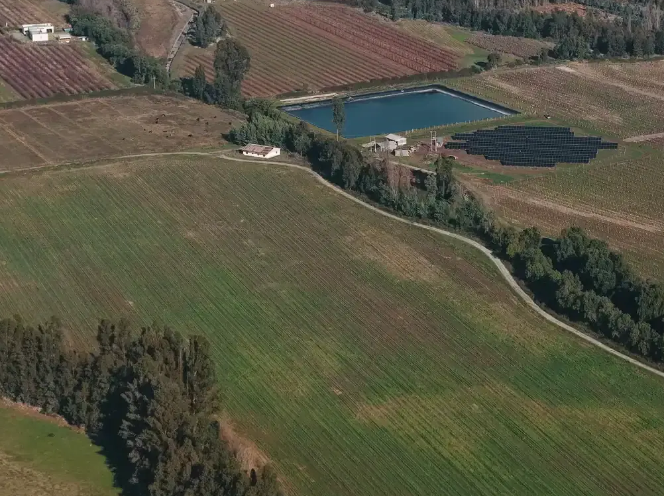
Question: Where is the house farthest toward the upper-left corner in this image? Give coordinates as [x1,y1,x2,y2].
[21,19,59,41]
